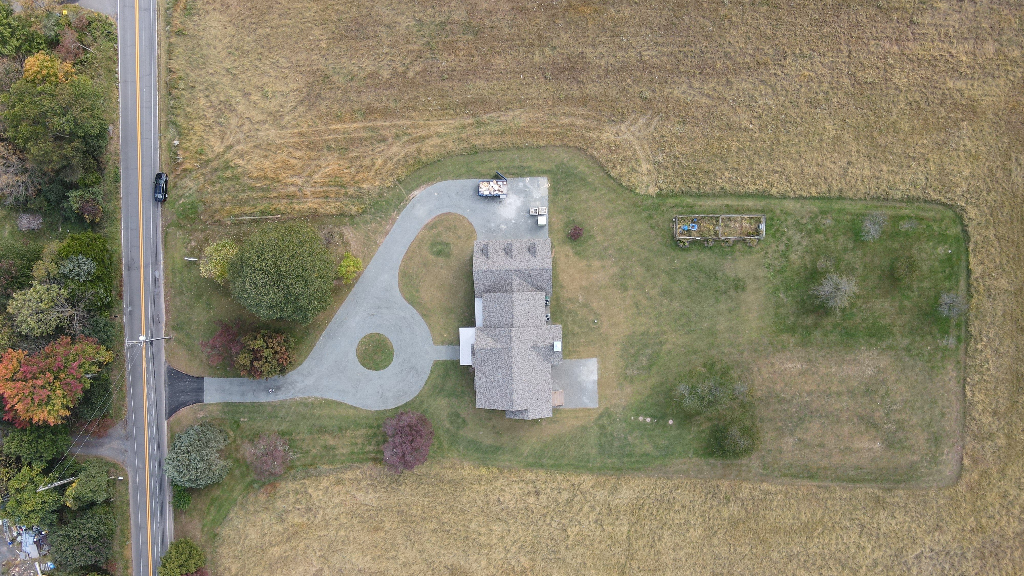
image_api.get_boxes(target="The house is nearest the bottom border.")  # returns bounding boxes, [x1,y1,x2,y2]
[459,239,563,420]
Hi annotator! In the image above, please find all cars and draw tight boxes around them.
[153,172,170,202]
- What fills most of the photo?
grass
